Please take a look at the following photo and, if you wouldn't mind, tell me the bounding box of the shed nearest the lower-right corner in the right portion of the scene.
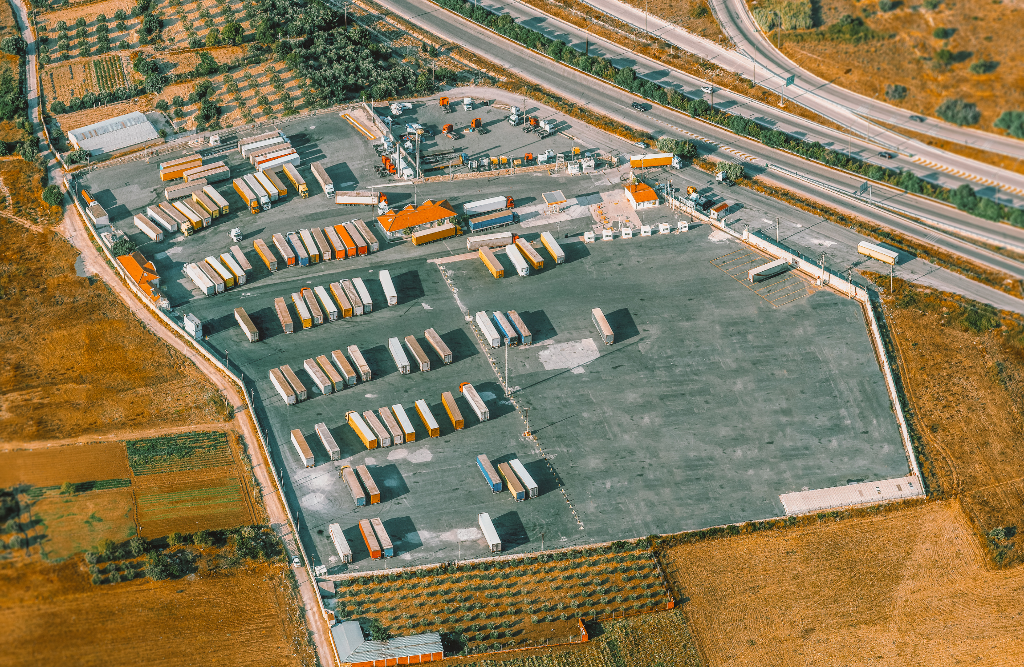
[780,473,925,520]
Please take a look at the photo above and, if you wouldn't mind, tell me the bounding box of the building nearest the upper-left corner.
[71,112,162,166]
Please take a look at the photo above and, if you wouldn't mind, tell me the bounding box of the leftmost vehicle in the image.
[79,190,96,206]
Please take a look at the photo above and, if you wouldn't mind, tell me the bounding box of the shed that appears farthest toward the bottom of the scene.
[329,621,444,667]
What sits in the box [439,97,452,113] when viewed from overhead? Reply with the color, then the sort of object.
orange vehicle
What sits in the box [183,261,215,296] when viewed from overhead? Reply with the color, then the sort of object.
white truck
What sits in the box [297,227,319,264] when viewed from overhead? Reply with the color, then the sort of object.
white truck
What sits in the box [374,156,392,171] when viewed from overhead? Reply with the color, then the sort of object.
red vehicle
